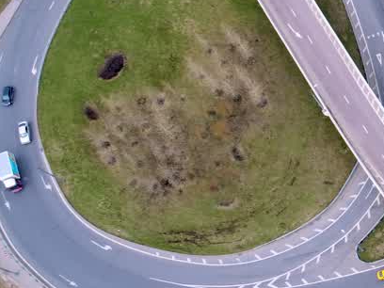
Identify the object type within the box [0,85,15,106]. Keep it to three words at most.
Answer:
car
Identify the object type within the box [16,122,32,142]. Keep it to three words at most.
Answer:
car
